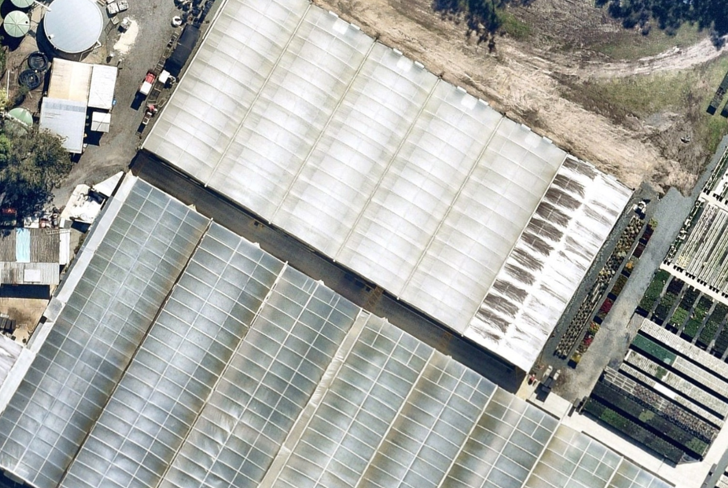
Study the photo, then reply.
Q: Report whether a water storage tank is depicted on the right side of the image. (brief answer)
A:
No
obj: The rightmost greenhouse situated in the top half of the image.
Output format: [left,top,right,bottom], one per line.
[141,0,636,378]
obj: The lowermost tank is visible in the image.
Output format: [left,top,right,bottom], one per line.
[7,107,36,137]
